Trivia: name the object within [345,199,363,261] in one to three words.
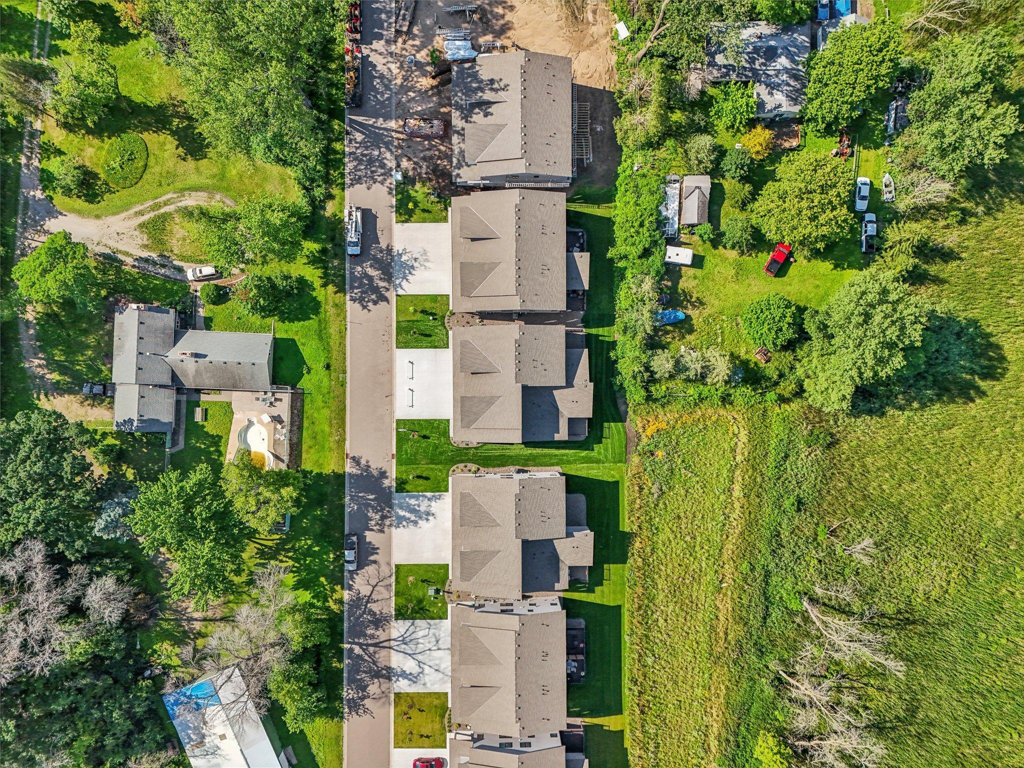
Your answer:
vehicle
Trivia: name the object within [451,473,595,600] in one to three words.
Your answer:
house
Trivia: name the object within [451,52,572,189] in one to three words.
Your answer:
house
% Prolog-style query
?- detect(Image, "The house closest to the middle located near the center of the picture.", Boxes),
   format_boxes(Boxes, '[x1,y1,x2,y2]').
[451,324,595,444]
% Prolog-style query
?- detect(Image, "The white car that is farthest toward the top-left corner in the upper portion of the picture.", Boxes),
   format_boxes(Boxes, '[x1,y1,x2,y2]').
[188,265,220,281]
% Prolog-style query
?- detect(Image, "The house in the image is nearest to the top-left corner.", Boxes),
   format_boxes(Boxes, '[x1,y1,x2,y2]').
[113,304,278,432]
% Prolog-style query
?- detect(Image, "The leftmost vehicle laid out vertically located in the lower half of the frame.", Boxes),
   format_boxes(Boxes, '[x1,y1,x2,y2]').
[342,532,358,570]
